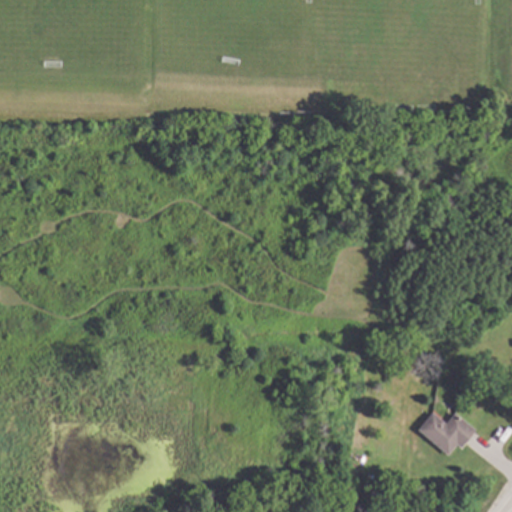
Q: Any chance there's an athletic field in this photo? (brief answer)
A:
Yes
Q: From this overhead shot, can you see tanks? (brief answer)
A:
No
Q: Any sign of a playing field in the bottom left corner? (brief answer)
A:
No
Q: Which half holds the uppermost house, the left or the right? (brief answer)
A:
right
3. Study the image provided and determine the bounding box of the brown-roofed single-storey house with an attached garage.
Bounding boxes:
[420,413,476,456]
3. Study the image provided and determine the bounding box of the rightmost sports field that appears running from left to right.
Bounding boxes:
[151,0,488,116]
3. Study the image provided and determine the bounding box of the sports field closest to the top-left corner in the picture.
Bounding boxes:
[0,0,151,120]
